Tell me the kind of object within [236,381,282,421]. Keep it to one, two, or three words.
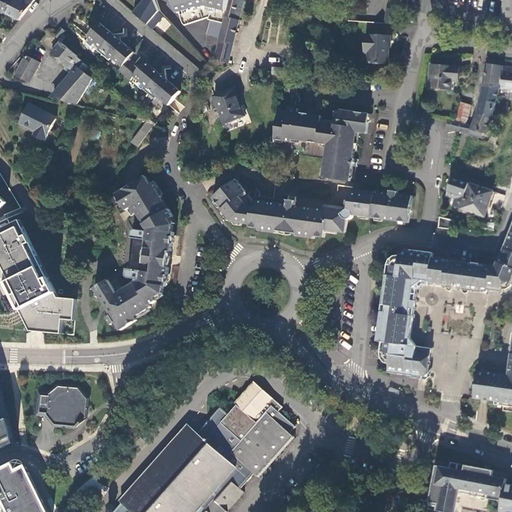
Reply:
building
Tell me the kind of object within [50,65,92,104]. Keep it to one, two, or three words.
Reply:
house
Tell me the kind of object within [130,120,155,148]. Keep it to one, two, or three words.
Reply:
shed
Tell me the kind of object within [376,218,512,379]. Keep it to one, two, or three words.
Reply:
building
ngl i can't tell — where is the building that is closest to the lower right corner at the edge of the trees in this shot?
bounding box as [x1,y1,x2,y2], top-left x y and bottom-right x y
[428,460,512,512]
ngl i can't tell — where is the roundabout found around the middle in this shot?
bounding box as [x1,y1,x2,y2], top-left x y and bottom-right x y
[226,248,302,334]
